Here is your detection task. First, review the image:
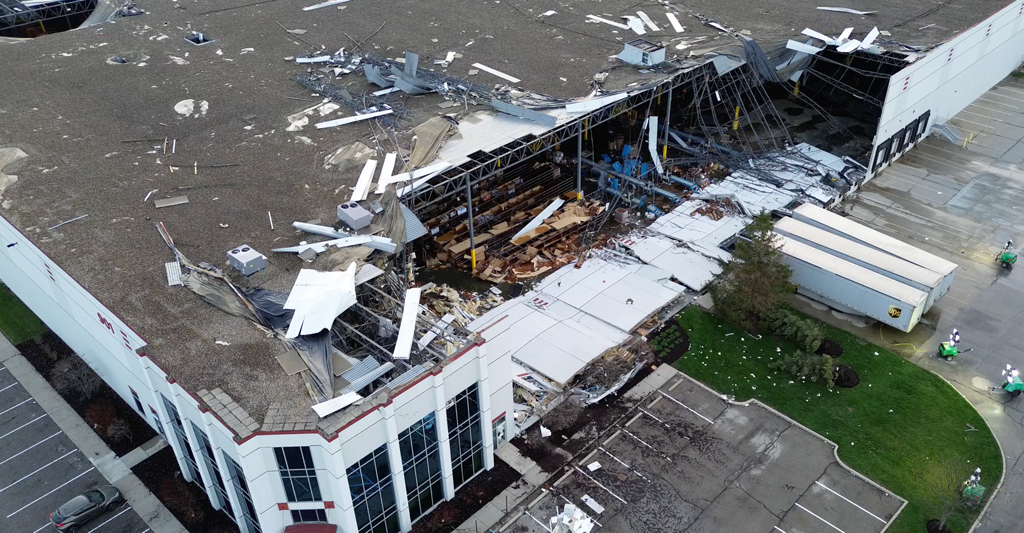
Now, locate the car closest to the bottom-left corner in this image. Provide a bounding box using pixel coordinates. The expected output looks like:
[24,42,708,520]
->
[48,486,119,533]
